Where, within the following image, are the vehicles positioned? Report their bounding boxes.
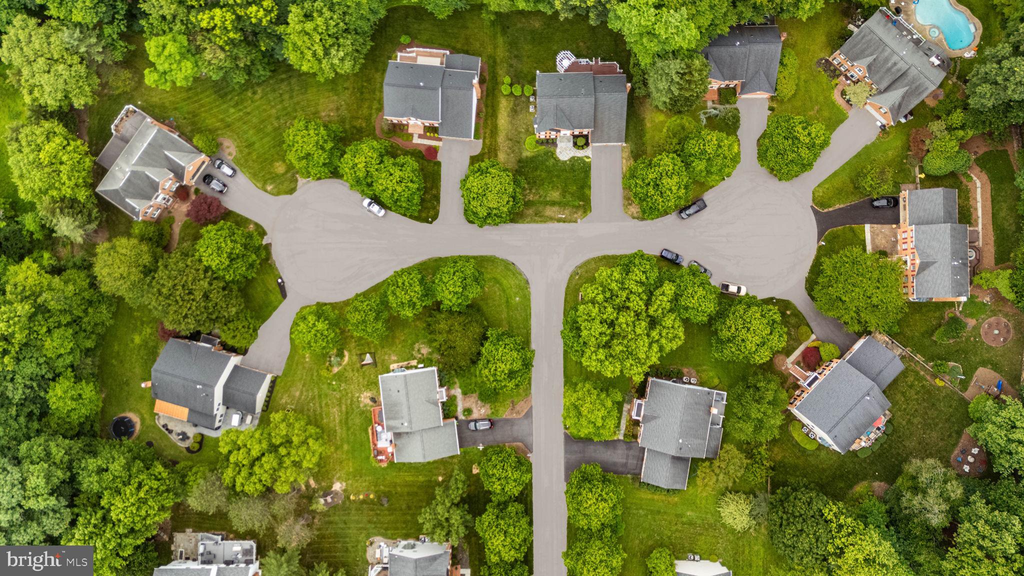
[687,259,712,277]
[210,157,235,177]
[720,283,748,295]
[680,197,708,219]
[659,248,684,264]
[468,420,492,431]
[361,198,384,217]
[873,195,899,207]
[201,174,226,193]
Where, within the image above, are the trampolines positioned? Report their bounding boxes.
[101,417,134,442]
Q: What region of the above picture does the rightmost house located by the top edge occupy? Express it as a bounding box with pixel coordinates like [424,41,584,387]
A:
[830,5,952,128]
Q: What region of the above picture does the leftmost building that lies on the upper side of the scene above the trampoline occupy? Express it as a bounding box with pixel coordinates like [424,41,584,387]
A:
[96,104,210,222]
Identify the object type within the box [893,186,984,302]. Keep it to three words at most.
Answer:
house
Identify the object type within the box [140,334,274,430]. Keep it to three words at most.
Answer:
house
